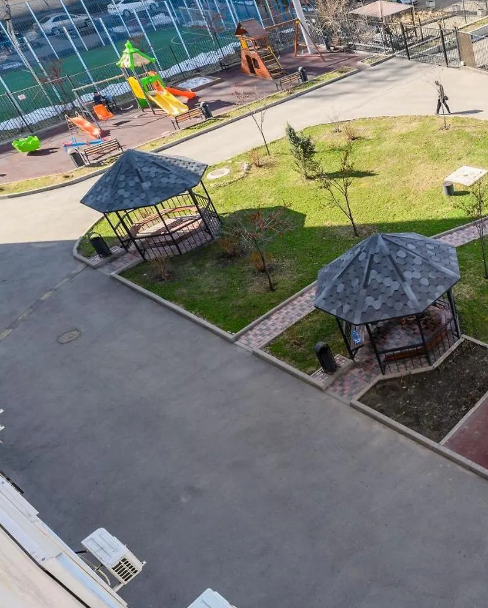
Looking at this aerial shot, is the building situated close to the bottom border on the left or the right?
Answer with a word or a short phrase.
left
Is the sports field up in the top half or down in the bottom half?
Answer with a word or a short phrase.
top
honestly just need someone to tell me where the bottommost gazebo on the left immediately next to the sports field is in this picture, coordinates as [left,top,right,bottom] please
[80,146,226,263]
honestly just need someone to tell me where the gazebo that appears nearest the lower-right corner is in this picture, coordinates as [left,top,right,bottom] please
[314,230,465,378]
